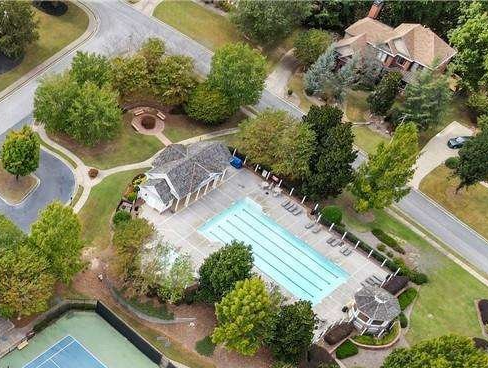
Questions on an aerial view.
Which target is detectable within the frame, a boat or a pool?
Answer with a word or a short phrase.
pool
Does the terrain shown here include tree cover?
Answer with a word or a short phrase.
Yes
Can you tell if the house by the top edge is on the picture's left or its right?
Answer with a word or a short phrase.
right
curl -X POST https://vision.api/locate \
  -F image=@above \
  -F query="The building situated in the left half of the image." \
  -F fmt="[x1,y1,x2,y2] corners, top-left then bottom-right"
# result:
[136,135,238,213]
